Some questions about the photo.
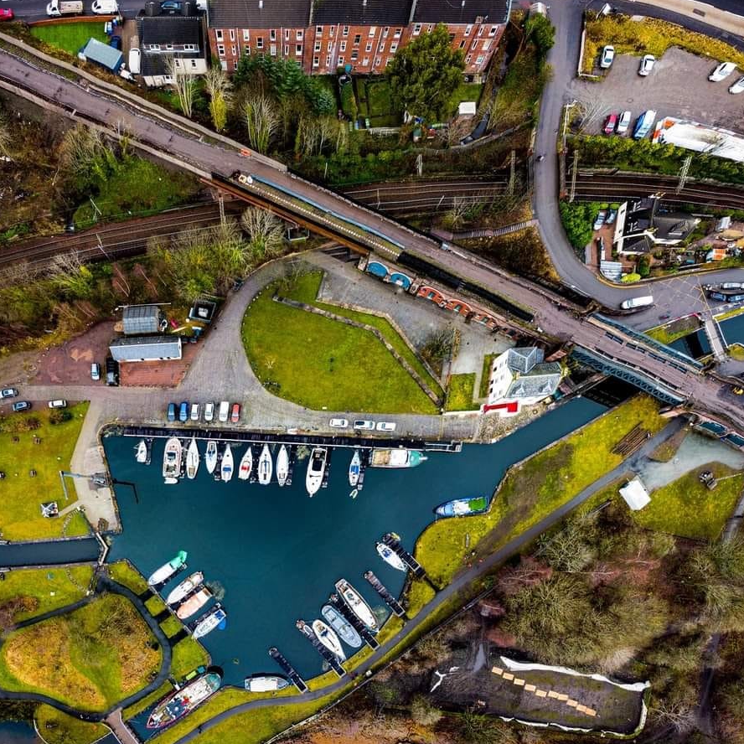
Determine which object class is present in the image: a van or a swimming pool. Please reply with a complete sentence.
It is a van that can be seen here.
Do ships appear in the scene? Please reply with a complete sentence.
Yes, the frame does contain a ship.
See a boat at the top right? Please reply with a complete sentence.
No, there is no boat at the top right.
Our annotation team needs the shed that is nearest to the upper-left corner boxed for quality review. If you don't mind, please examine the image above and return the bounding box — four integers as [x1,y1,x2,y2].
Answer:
[83,37,126,78]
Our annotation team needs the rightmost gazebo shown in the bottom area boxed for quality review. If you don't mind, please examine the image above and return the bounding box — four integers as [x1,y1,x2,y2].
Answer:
[613,479,651,511]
